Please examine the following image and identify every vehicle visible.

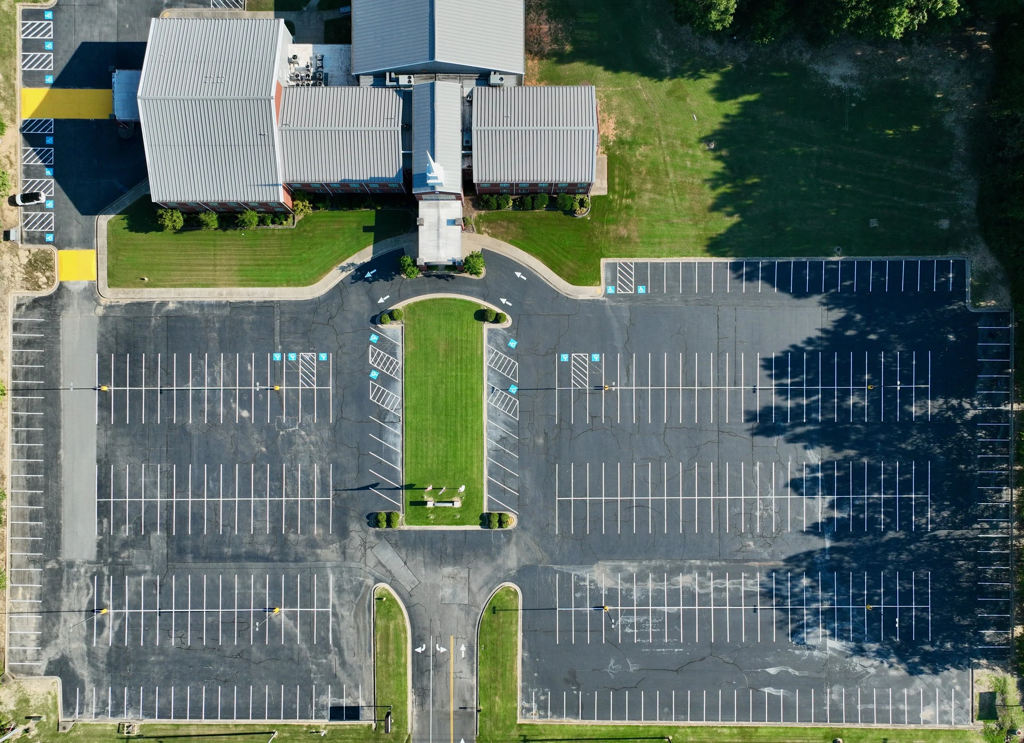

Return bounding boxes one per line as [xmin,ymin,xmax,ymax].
[17,192,46,207]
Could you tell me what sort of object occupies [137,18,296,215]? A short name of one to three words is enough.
building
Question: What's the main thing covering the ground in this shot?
paved ground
